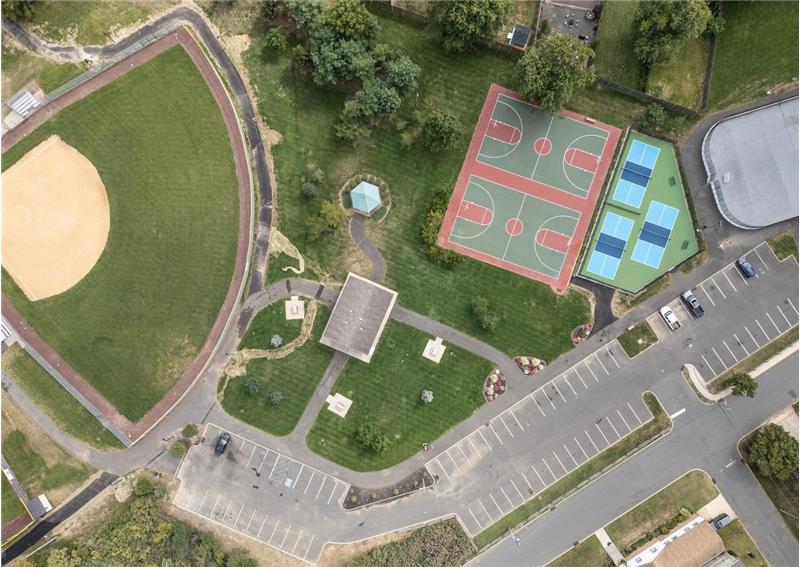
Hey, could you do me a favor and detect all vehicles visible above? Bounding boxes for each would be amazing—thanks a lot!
[710,512,734,528]
[737,257,755,279]
[681,290,704,317]
[215,431,230,455]
[659,304,682,331]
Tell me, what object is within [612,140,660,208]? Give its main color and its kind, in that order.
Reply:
blue sports court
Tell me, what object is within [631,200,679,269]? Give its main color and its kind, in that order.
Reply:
blue sports court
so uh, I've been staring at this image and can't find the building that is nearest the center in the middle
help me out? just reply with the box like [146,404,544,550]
[320,273,398,362]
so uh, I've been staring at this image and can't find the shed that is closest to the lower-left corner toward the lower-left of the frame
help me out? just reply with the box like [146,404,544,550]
[24,492,55,519]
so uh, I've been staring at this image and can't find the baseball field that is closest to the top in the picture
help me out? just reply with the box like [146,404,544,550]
[0,26,252,446]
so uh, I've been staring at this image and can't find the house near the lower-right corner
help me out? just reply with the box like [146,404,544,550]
[625,517,730,567]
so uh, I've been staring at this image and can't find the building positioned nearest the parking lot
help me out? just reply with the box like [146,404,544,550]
[701,93,800,230]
